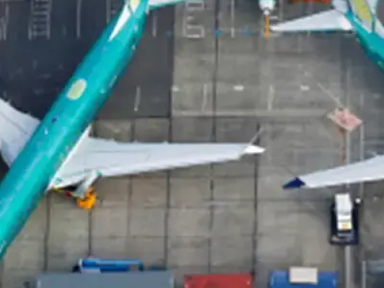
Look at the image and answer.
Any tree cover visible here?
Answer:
No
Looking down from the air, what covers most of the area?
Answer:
paved ground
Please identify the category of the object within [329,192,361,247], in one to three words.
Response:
work vehicle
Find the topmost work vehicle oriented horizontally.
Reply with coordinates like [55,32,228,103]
[79,260,151,275]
